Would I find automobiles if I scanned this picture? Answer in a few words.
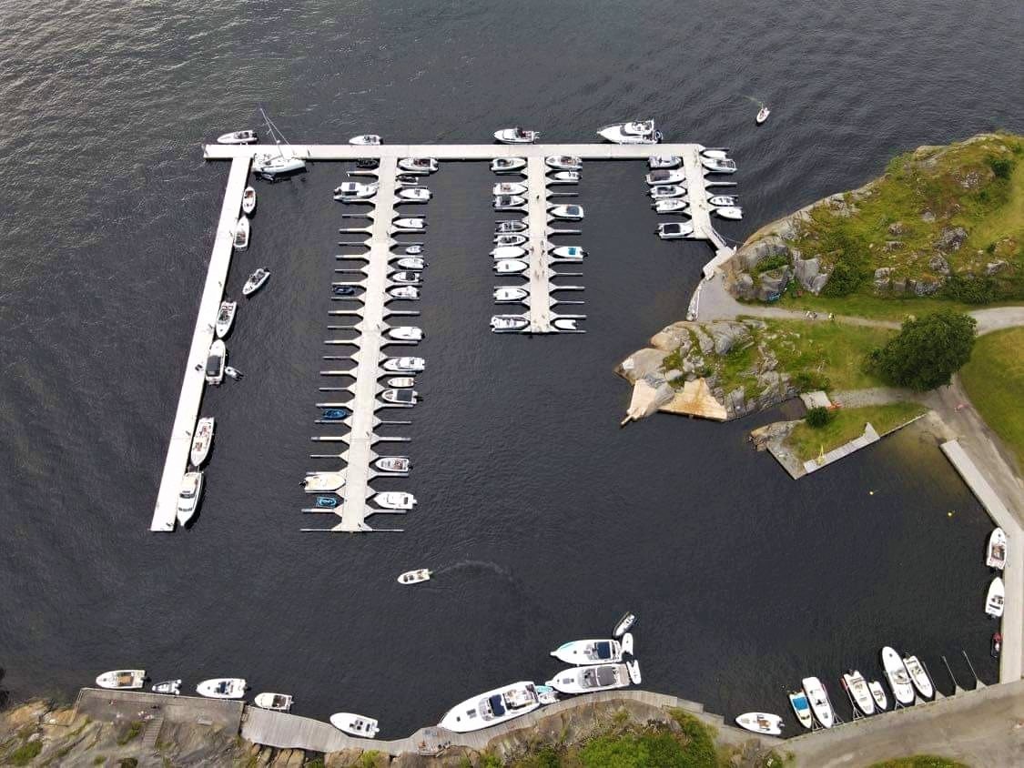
No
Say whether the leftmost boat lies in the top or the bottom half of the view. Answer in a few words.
bottom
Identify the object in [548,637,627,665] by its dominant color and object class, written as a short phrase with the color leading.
white boat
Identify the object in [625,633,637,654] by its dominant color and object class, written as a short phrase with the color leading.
white boat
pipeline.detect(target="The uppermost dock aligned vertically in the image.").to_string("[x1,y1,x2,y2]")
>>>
[683,156,711,241]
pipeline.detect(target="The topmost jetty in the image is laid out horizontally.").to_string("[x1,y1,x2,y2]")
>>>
[204,143,700,160]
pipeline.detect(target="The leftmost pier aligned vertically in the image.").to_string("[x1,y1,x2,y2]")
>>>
[151,158,251,532]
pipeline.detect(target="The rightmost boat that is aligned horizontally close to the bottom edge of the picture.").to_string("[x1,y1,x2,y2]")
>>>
[735,710,785,734]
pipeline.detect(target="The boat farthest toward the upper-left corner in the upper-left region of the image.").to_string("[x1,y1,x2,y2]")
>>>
[218,131,258,144]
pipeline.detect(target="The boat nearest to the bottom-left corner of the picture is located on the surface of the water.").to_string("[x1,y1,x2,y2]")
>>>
[94,668,149,690]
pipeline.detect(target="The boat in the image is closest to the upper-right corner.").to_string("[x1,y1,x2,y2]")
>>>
[756,105,771,123]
